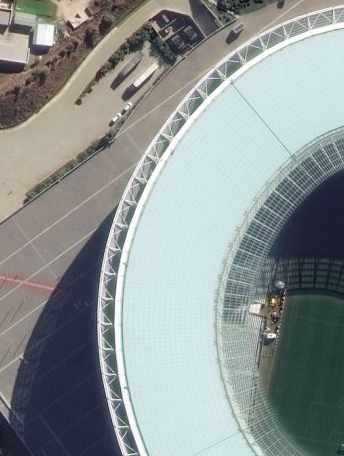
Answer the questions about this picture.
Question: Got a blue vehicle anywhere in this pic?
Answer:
No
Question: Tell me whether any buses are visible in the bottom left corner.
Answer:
No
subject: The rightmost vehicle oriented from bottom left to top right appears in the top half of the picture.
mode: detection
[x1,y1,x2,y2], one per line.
[133,62,158,87]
